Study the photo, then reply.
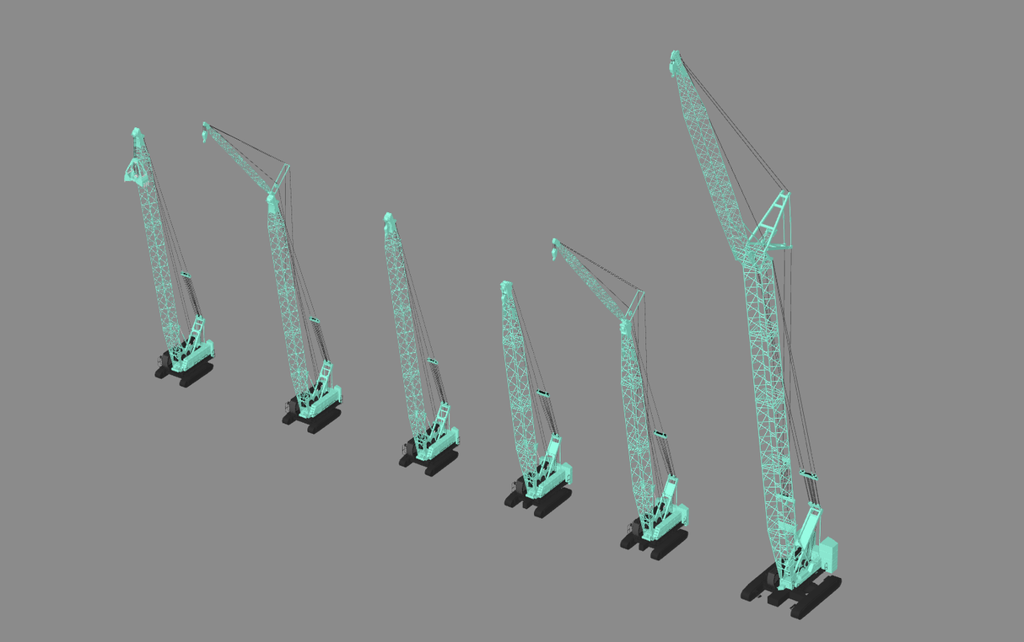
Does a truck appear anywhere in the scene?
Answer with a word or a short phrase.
No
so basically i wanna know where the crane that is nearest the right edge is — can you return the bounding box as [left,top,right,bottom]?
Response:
[671,50,842,619]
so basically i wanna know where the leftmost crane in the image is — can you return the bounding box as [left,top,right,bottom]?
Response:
[130,129,216,388]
